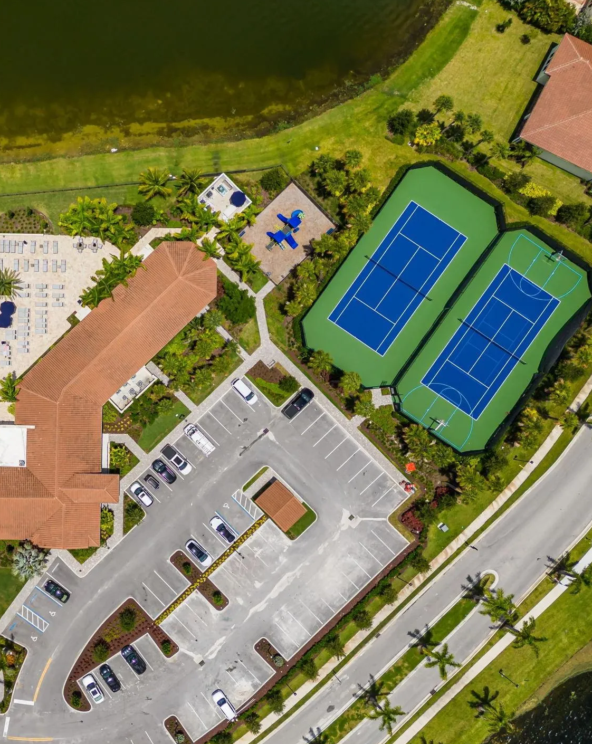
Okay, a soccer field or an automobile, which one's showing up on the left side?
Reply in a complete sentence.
The one visible on the left side is an automobile.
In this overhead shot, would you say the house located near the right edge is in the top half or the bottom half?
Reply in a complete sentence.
You can find the house located near the right edge in the top half.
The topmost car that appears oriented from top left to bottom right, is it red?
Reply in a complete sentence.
No, the color of the topmost car that appears oriented from top left to bottom right is white.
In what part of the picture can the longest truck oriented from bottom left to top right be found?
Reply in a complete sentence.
The longest truck oriented from bottom left to top right is located in the center region of the scene.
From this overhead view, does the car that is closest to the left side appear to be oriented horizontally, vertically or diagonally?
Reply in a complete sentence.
In this picture, the car that is closest to the left side is oriented diagonally.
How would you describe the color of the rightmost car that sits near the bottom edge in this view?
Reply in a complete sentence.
The color of the rightmost car that sits near the bottom edge is white.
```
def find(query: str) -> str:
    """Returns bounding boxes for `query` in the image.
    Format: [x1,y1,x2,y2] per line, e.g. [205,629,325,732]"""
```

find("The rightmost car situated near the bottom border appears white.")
[211,688,240,723]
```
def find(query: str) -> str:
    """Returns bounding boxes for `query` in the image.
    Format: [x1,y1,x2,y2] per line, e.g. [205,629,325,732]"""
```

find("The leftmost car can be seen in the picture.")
[44,577,72,605]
